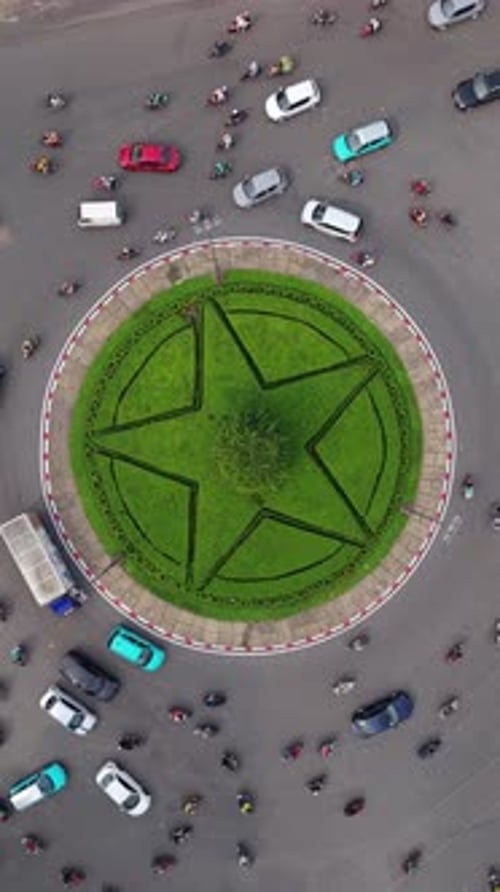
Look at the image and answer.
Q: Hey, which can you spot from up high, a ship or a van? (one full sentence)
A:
Visible in the photo is a van.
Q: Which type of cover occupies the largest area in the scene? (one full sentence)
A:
The largest share of the image is taken up by paved ground.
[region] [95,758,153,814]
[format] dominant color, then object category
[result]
white car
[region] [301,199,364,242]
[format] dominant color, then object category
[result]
white car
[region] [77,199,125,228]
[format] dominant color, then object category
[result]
white van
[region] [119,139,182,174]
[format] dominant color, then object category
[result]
red car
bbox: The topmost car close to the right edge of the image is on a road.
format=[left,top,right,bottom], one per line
[426,0,490,31]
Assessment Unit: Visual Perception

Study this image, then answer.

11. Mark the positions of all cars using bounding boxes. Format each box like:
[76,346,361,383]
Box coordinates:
[40,683,99,733]
[56,649,122,699]
[266,78,322,124]
[5,758,70,814]
[451,67,500,112]
[426,0,490,31]
[301,199,364,242]
[332,116,395,164]
[350,688,412,734]
[233,166,290,209]
[95,758,153,814]
[105,625,166,671]
[119,139,182,174]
